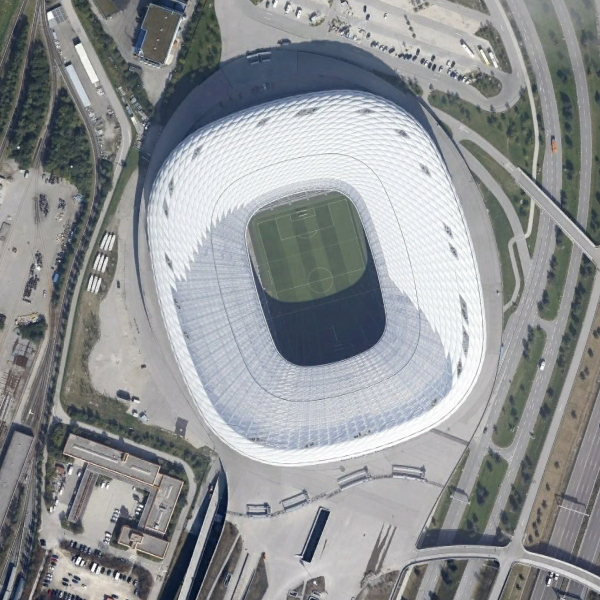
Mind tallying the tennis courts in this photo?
0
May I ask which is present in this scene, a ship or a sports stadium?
sports stadium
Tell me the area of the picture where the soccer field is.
center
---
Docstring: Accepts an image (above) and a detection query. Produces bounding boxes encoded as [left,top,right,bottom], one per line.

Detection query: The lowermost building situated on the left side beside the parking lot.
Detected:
[118,524,171,560]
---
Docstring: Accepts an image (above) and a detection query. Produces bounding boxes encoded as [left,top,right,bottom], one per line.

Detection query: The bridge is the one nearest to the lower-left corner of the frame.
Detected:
[179,473,221,600]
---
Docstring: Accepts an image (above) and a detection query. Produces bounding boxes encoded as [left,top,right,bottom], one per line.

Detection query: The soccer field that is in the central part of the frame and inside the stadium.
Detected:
[250,195,381,363]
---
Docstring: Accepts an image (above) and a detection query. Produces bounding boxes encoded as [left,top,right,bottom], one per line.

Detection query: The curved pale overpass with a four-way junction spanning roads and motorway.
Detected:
[390,535,600,600]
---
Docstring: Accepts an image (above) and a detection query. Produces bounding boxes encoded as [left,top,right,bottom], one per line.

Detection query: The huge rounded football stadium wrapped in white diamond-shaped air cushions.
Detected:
[148,86,485,469]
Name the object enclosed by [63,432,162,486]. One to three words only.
building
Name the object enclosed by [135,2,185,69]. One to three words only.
building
